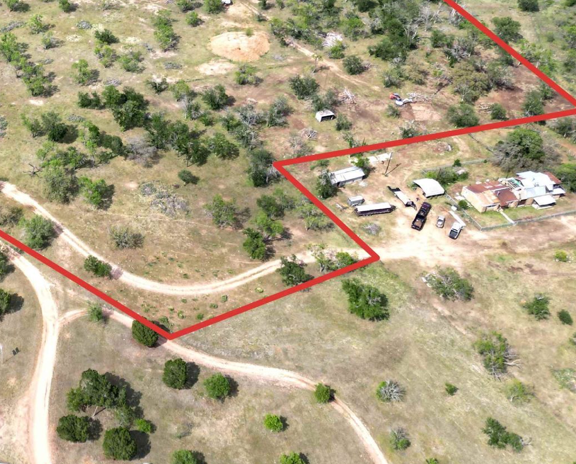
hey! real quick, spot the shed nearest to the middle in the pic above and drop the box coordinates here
[321,157,367,184]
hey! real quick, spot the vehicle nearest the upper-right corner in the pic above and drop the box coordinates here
[388,89,406,102]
